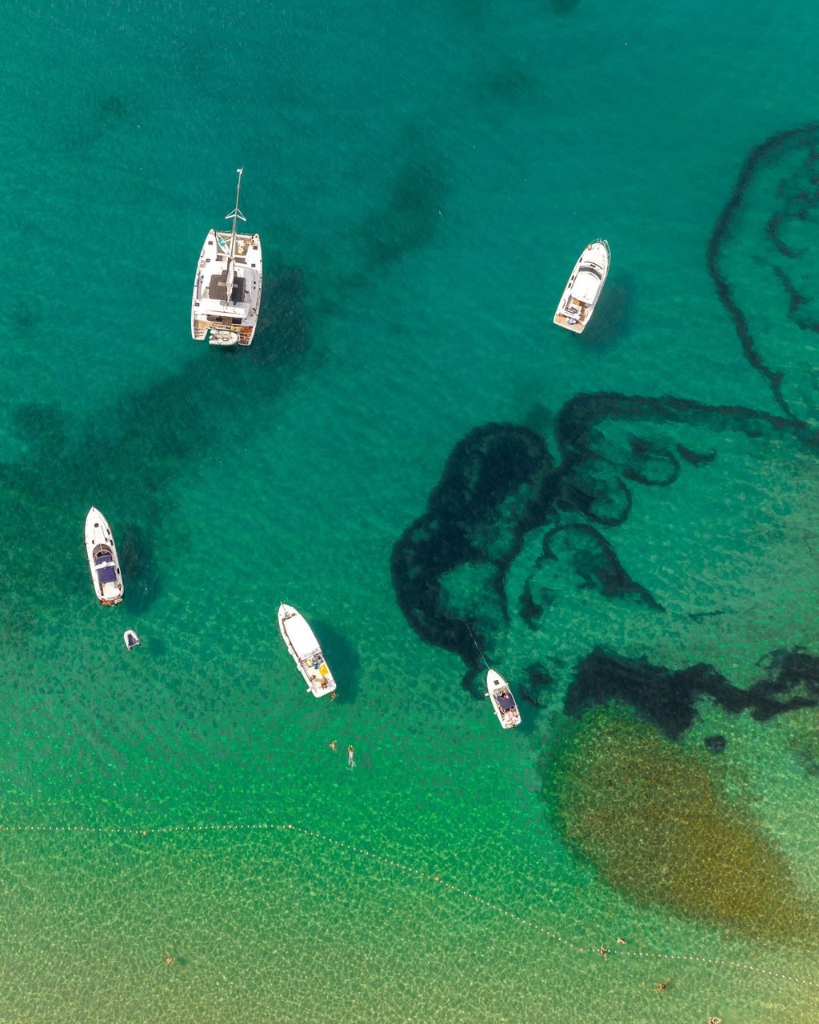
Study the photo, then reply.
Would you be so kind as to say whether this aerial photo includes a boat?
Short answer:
Yes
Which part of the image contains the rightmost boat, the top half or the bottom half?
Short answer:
top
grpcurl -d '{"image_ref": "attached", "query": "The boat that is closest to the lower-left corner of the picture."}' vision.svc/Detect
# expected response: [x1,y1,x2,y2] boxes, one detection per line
[124,629,139,650]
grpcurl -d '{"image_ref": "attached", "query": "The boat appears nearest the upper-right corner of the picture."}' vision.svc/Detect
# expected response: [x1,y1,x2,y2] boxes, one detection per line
[554,237,611,334]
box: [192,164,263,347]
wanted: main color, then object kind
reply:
white boat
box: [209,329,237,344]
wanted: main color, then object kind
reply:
white boat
